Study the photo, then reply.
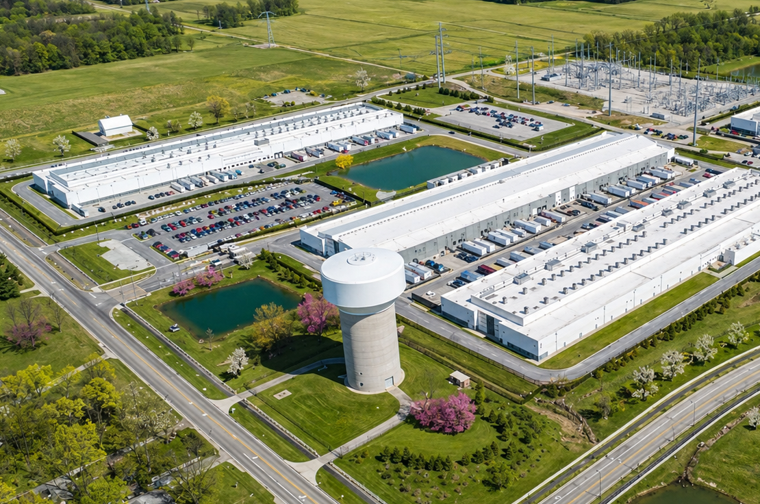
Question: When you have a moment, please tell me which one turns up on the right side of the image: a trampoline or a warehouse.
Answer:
warehouse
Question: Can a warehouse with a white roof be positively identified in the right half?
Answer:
Yes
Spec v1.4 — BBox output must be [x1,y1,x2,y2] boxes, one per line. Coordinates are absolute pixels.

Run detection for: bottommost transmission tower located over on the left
[257,13,276,46]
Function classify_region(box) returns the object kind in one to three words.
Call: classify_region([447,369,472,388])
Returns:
building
